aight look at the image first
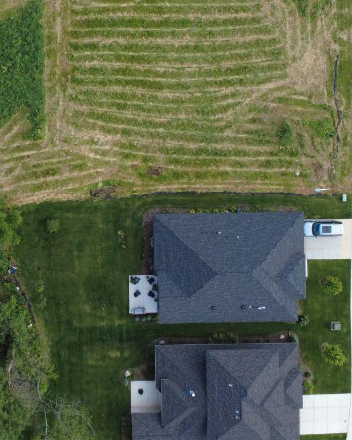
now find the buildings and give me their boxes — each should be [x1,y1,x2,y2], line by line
[153,212,308,324]
[131,342,302,440]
